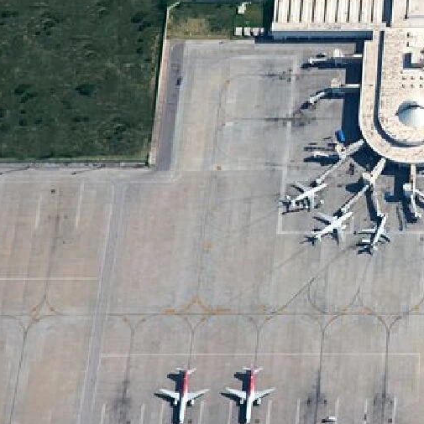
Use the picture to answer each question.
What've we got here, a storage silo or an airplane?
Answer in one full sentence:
There is an airplane in the scene.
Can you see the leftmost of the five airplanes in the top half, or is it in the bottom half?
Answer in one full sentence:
The leftmost of the five airplanes sits in the bottom half of the picture.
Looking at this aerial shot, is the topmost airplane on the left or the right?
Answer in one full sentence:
The topmost airplane sits on the right side.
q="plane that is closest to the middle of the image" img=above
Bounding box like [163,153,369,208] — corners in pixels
[287,177,326,212]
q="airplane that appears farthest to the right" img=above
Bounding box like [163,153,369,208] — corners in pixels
[358,216,397,250]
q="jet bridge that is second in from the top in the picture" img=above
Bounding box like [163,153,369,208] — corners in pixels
[305,79,361,105]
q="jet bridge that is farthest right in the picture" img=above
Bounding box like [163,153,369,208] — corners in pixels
[402,167,424,220]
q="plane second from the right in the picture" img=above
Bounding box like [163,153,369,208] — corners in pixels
[311,208,352,243]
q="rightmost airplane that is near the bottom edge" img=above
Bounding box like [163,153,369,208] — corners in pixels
[225,369,276,423]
